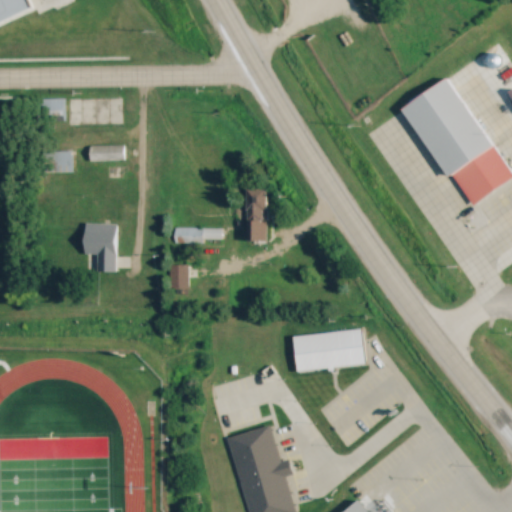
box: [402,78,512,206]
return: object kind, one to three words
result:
building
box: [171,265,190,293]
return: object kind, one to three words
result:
house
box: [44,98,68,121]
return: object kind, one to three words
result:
shed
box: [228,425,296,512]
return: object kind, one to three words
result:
building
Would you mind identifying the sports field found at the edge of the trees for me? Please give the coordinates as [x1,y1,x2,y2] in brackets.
[0,380,124,512]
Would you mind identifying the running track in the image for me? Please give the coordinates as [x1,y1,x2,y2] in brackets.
[0,358,146,512]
